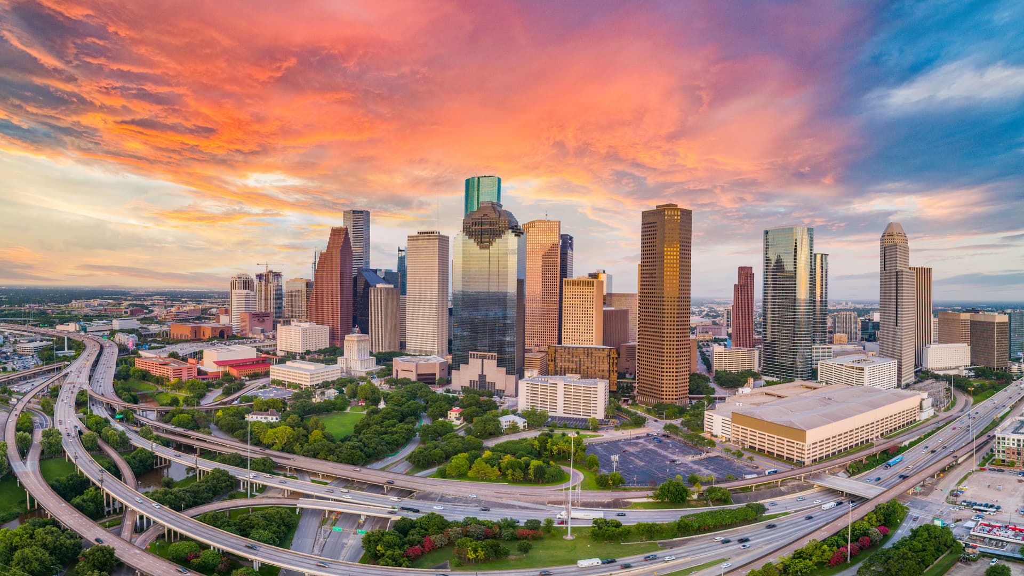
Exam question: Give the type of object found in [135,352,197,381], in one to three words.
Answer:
building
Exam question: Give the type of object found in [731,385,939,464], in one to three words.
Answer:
building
